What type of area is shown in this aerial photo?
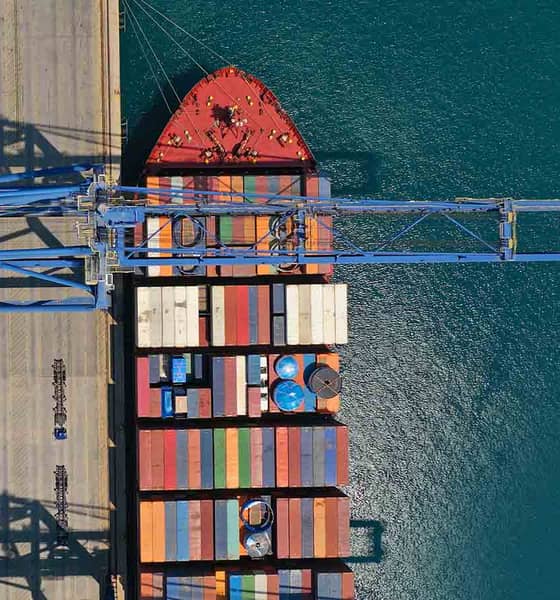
port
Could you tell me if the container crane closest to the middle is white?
No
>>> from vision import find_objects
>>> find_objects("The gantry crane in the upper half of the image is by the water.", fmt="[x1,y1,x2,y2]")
[0,160,560,309]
